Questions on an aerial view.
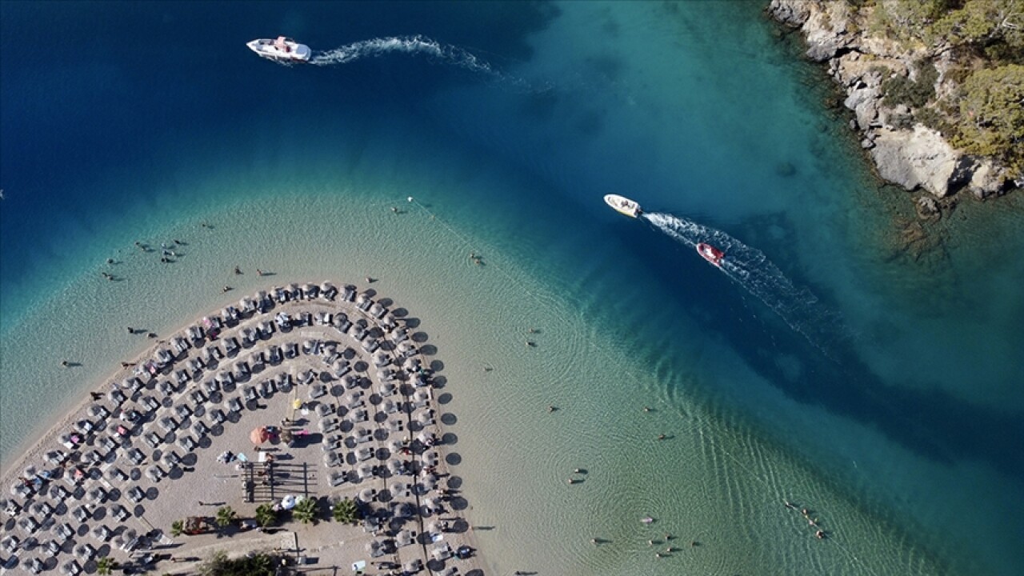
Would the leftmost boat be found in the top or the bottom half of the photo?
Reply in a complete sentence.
The leftmost boat is in the top half of the image.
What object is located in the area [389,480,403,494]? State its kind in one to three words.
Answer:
umbrella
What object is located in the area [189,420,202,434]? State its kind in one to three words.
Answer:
umbrella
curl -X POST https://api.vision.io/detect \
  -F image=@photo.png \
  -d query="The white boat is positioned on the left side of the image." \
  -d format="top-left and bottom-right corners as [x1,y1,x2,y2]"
[248,39,313,61]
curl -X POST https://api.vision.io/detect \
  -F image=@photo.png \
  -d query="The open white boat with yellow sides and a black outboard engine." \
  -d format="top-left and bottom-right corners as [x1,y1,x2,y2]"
[604,196,642,217]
